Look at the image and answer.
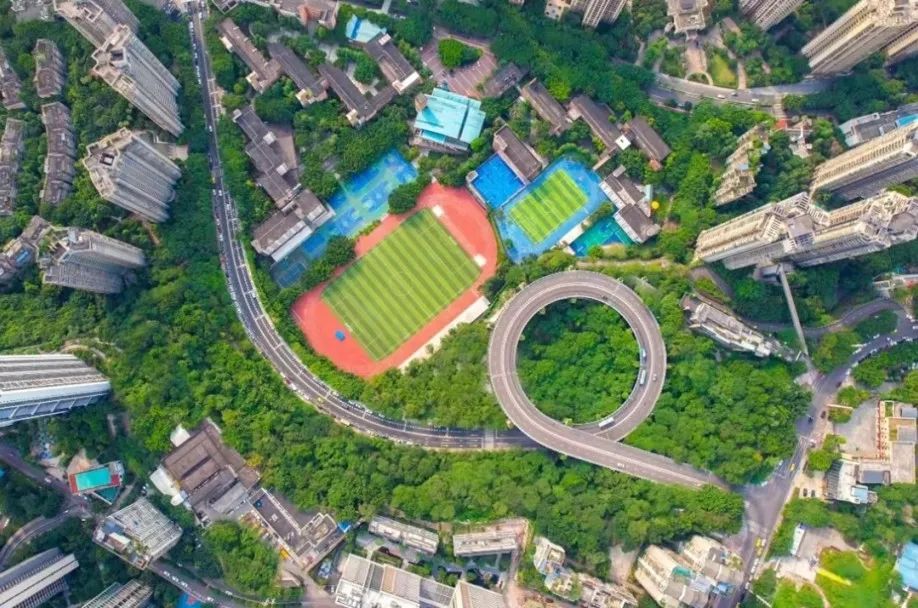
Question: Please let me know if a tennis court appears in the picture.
Yes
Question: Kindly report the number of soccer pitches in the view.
two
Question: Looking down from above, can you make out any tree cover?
Yes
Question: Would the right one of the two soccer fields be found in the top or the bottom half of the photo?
top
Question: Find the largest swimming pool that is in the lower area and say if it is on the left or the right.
left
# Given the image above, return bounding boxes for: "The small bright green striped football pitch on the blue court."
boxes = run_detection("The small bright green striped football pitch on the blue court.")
[507,168,588,245]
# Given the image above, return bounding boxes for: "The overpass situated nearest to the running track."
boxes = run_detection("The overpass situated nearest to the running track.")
[488,271,759,511]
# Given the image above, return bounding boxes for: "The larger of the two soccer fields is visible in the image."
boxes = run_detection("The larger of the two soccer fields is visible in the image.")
[321,208,481,360]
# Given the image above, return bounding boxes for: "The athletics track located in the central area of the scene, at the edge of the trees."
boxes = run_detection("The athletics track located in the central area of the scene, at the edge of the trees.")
[292,181,497,377]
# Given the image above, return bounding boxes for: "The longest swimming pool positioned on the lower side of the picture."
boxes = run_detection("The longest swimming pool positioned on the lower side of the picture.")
[76,468,111,490]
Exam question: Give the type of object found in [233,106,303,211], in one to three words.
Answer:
building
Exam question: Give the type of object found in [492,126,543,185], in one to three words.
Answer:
building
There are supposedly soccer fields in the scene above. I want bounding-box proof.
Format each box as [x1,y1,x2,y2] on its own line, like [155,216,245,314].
[507,168,588,245]
[321,208,481,360]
